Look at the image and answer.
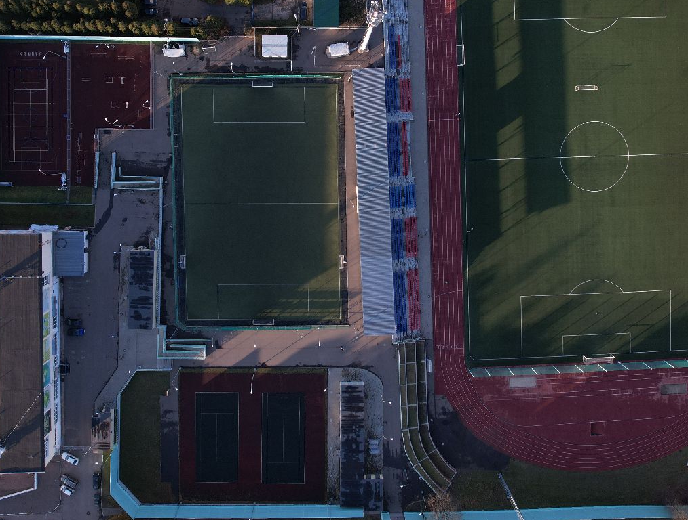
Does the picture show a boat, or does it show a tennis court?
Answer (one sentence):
Visible in the photo is a tennis court.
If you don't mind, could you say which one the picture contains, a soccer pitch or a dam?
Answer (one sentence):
This aerial view contains a soccer pitch.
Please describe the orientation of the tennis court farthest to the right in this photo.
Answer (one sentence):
The tennis court farthest to the right has been laid out up and down relative to the frame.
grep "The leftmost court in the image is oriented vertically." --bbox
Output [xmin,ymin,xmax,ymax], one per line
[0,44,67,187]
